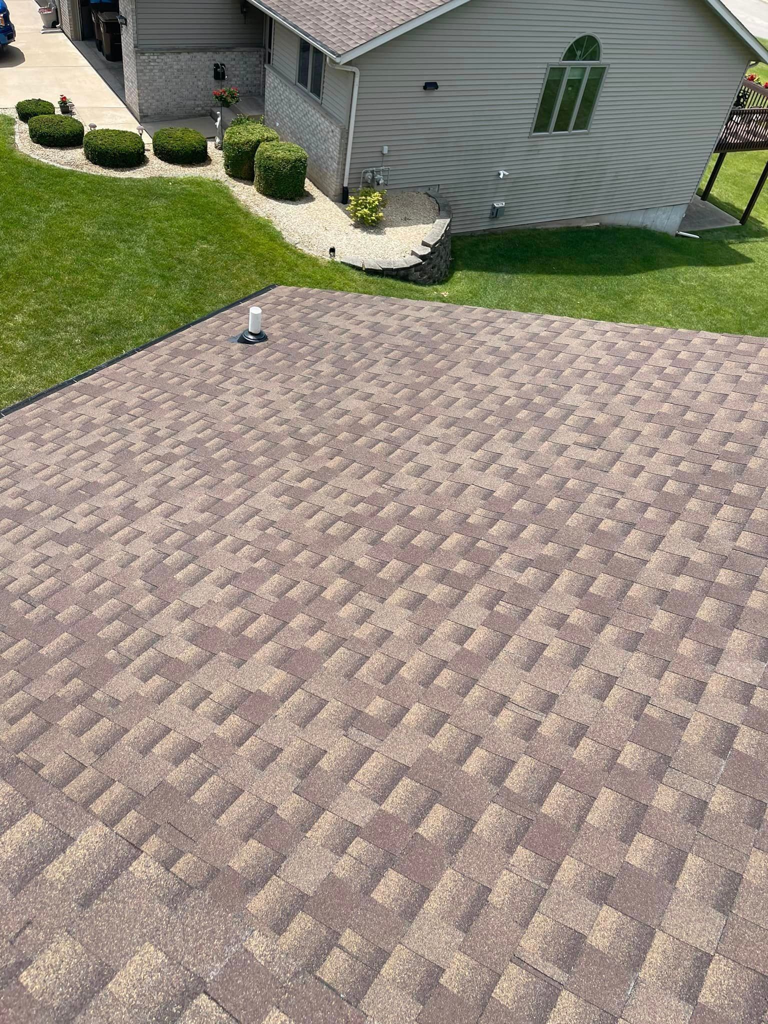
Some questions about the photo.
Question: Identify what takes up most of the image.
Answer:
buildings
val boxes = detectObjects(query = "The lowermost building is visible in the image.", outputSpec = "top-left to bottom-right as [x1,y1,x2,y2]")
[0,282,768,1024]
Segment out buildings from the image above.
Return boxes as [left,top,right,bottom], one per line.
[0,282,768,1024]
[35,0,768,236]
